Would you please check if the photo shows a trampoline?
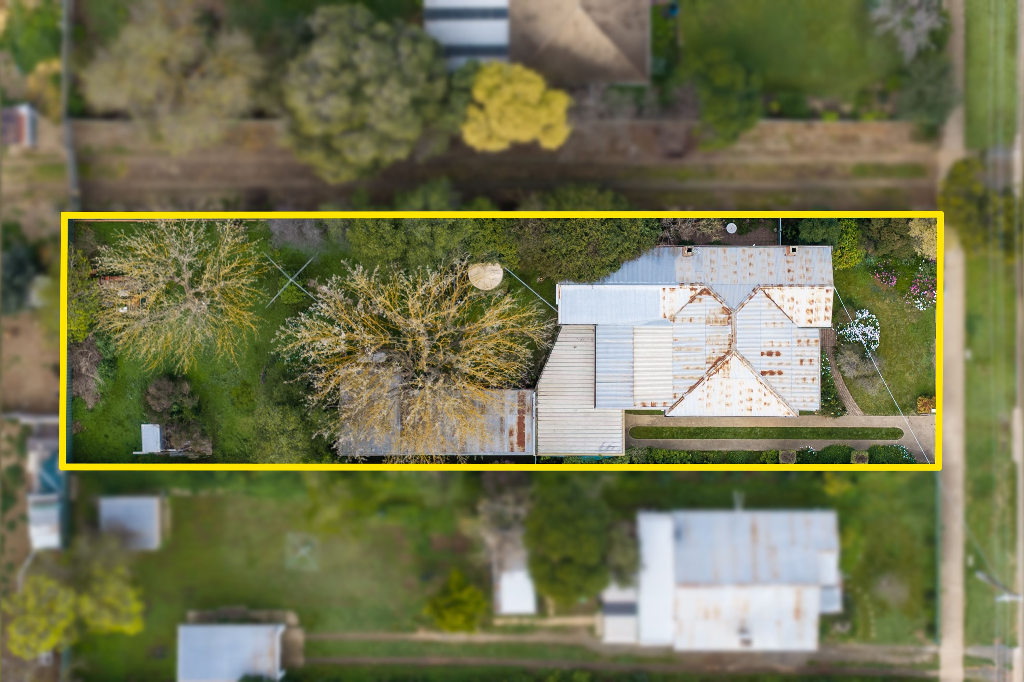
No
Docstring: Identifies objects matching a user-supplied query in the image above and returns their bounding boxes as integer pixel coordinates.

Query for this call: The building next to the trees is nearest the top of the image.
[510,0,652,86]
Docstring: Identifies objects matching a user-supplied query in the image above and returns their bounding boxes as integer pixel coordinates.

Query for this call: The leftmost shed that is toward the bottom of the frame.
[27,495,63,548]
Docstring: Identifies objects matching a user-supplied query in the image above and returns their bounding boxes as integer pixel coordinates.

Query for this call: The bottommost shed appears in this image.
[178,620,283,682]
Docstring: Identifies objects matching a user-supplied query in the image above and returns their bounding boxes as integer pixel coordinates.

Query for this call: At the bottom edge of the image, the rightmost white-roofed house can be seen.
[638,509,842,652]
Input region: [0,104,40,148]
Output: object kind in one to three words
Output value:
shed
